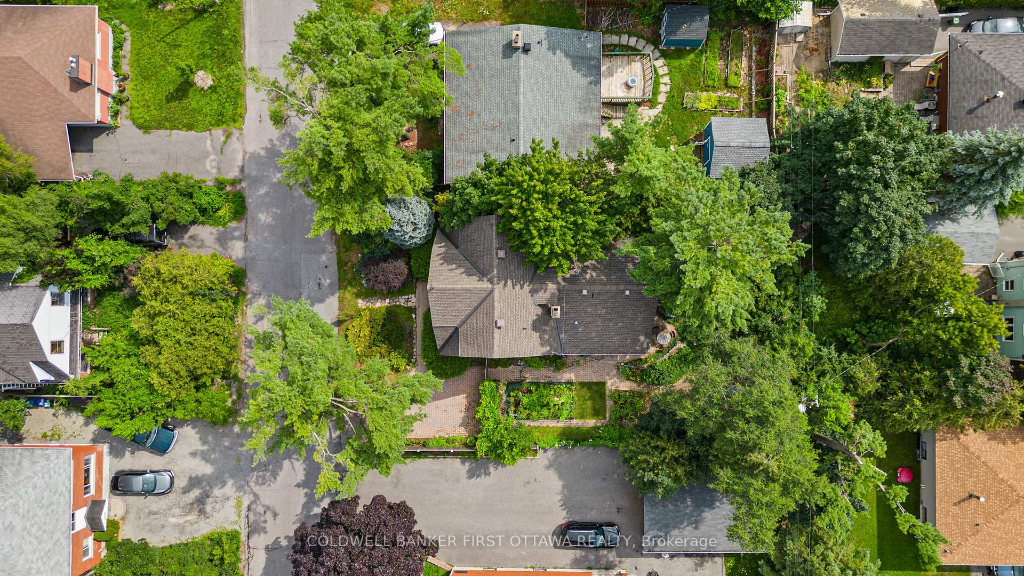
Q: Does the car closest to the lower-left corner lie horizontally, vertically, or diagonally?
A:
horizontally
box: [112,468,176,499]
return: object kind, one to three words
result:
car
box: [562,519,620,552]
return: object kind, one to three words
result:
car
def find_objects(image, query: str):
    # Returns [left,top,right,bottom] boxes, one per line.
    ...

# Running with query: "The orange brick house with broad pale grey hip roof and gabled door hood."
[0,441,121,576]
